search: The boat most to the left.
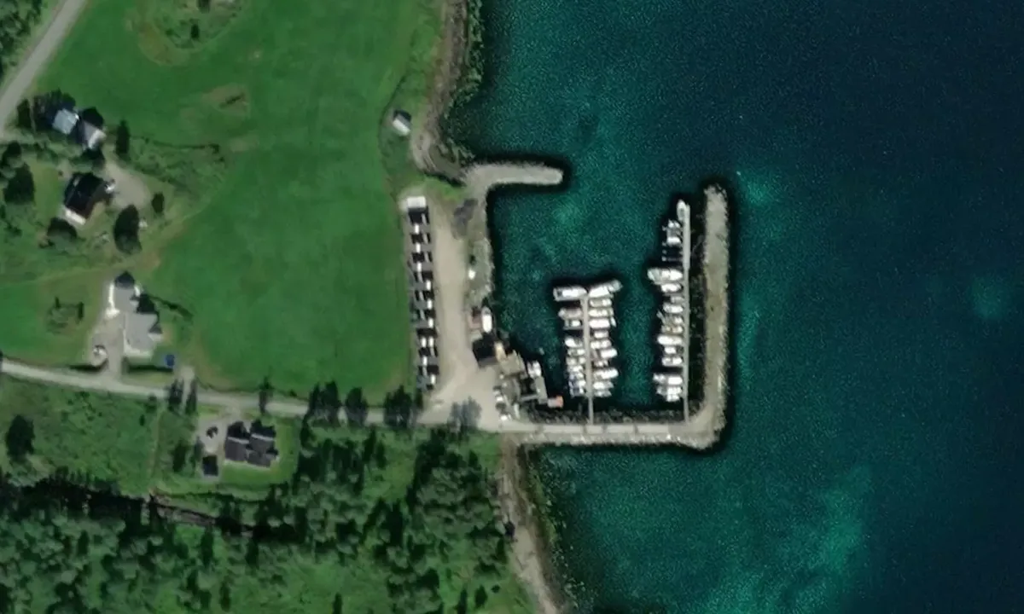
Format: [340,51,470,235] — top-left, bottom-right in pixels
[481,305,493,333]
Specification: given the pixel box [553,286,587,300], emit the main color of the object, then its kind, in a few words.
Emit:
white boat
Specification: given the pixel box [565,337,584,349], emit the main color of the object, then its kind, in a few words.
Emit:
white boat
